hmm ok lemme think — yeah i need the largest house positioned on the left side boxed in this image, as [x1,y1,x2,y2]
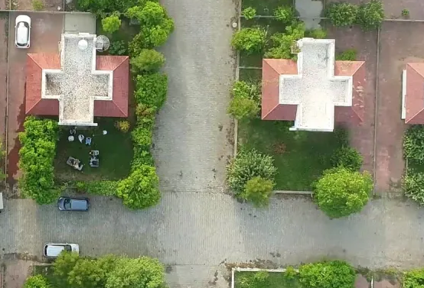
[25,35,130,129]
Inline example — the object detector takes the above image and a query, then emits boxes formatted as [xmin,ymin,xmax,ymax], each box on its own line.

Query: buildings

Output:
[260,39,365,134]
[25,35,130,129]
[400,62,424,124]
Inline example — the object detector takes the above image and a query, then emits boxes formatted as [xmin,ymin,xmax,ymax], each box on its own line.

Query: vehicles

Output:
[57,195,90,213]
[43,241,79,257]
[14,16,31,48]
